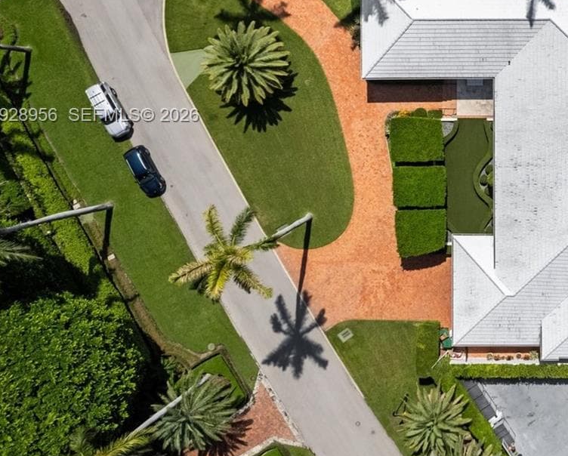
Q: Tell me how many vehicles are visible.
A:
2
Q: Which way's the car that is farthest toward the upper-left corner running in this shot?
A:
at an angle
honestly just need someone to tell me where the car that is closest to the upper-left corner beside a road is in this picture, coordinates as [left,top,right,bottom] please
[79,79,130,138]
